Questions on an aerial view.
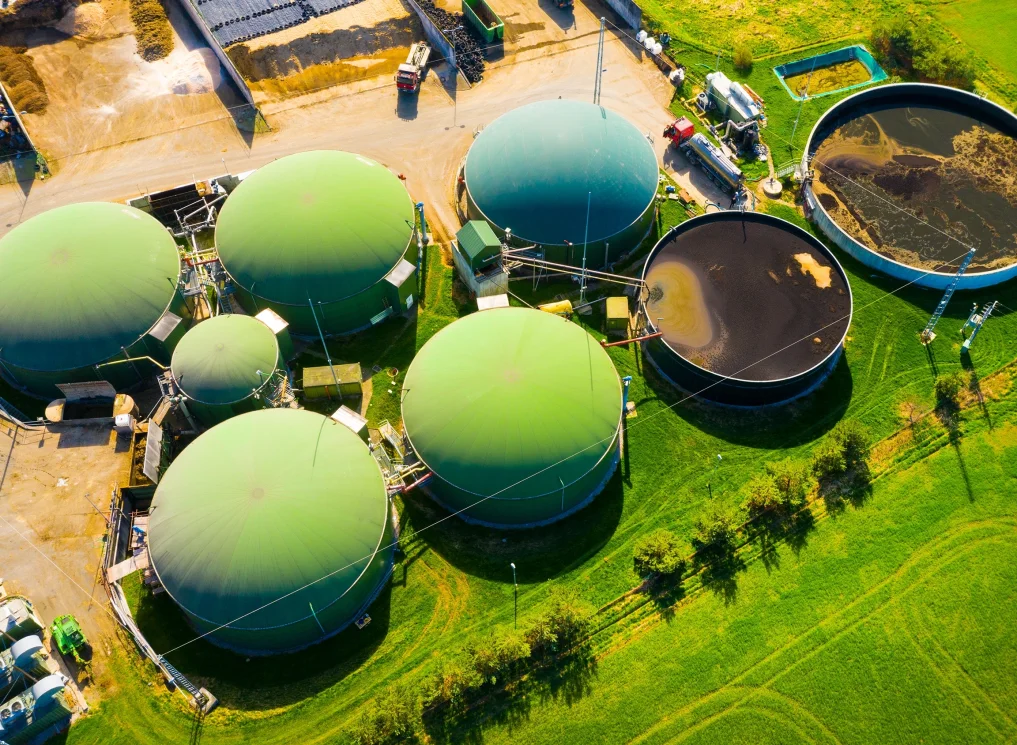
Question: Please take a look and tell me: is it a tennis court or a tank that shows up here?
tank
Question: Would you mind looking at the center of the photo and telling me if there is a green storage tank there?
Yes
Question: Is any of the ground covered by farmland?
Yes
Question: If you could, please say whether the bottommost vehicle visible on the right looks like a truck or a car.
truck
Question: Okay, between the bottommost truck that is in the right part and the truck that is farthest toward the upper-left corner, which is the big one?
the bottommost truck that is in the right part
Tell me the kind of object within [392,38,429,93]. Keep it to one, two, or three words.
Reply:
truck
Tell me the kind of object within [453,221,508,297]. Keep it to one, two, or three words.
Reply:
shed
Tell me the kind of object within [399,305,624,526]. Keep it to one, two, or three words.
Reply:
storage tank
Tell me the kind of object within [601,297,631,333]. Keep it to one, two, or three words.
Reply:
shed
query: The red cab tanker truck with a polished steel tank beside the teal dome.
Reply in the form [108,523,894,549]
[665,114,747,196]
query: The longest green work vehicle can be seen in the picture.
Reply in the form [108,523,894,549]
[50,607,93,669]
